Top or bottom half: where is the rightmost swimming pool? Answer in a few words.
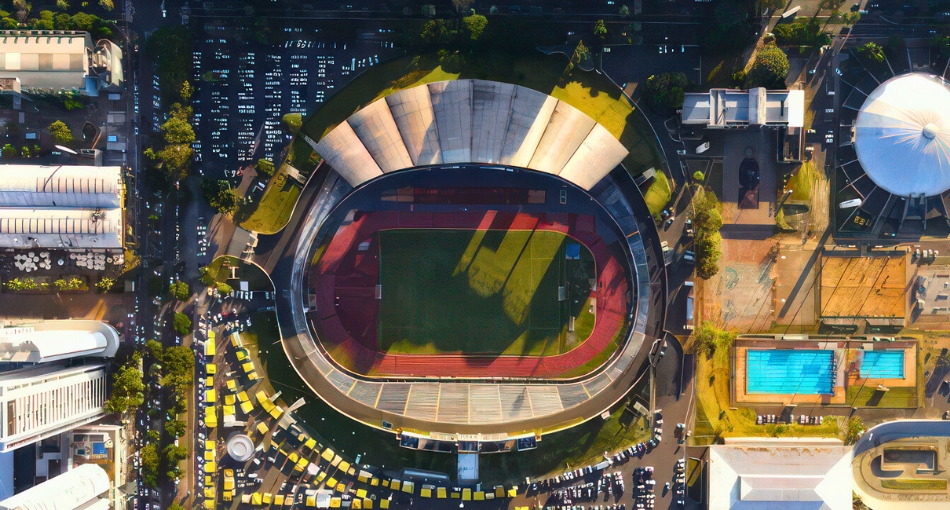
bottom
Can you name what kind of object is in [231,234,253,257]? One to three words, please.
shed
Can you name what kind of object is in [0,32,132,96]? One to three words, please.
building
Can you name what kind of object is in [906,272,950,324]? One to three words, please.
building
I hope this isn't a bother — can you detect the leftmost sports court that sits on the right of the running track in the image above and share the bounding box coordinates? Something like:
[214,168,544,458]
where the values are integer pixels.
[722,256,774,326]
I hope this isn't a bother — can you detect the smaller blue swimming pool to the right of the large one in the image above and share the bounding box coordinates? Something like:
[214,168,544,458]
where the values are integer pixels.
[846,347,916,404]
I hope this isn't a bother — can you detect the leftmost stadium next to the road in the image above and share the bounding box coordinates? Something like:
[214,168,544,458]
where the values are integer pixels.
[273,80,667,486]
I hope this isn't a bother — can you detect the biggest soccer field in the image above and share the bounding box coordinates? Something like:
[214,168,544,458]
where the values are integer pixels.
[379,230,596,355]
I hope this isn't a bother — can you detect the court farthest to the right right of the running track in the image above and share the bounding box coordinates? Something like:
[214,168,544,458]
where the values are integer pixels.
[822,256,907,317]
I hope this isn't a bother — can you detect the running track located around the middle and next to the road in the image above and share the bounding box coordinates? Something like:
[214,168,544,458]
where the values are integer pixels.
[309,187,635,379]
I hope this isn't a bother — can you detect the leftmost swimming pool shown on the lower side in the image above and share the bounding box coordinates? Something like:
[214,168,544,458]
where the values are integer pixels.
[737,347,846,404]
